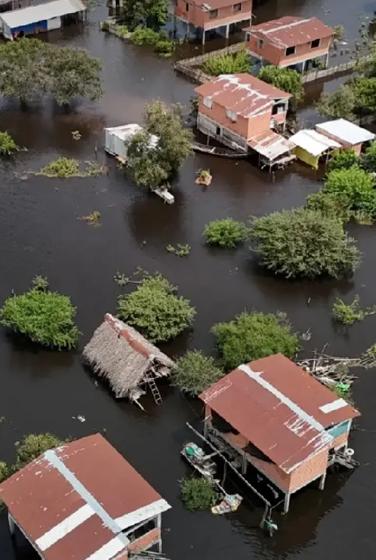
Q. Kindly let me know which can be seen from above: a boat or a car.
boat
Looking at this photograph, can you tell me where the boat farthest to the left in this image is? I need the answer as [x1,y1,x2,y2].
[156,187,175,205]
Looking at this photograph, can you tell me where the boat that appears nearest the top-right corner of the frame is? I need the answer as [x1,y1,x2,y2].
[191,141,249,159]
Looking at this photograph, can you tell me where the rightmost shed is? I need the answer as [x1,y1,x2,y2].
[316,119,376,159]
